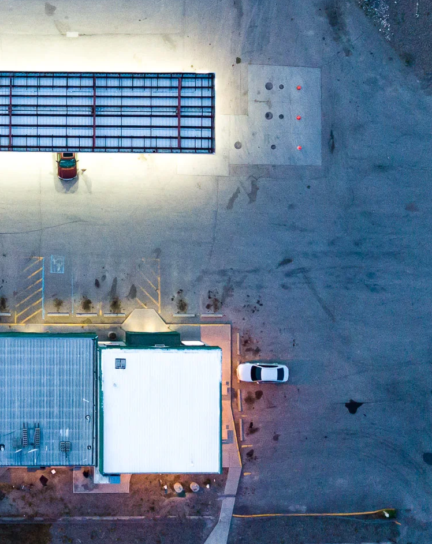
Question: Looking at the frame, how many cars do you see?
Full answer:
There are 2 cars in the image.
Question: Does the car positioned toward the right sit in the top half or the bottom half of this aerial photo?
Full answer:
It is in the bottom half that the car positioned toward the right appears.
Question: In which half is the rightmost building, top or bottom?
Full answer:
The bottom half of the photo is where the rightmost building is.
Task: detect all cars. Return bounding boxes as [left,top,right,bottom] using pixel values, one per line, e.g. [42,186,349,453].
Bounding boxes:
[54,155,80,181]
[236,362,289,386]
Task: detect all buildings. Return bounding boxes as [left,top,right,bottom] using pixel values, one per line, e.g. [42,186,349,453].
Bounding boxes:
[0,326,95,467]
[96,330,222,475]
